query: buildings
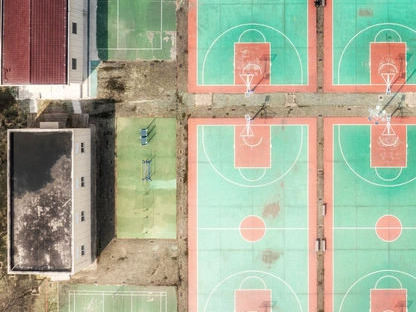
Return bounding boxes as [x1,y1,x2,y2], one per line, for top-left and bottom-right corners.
[8,119,92,273]
[1,0,86,85]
